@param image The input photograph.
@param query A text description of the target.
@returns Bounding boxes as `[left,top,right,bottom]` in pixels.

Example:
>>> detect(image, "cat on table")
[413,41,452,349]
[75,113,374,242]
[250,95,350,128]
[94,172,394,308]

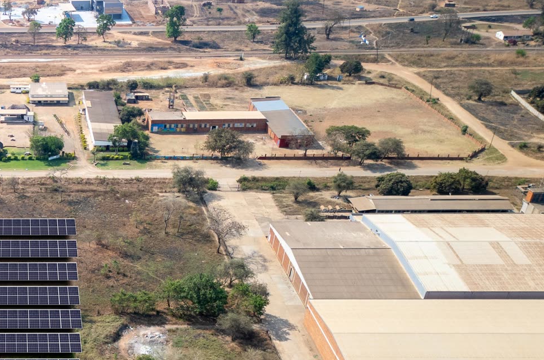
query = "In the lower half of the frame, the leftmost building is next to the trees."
[265,219,416,309]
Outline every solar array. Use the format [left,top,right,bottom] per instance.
[0,287,80,309]
[0,240,77,260]
[0,263,78,281]
[0,219,77,240]
[0,310,82,333]
[0,334,82,357]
